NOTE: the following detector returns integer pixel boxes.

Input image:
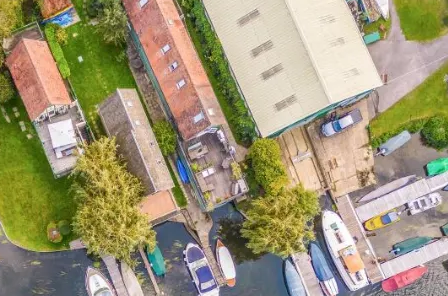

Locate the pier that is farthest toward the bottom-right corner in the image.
[380,234,448,279]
